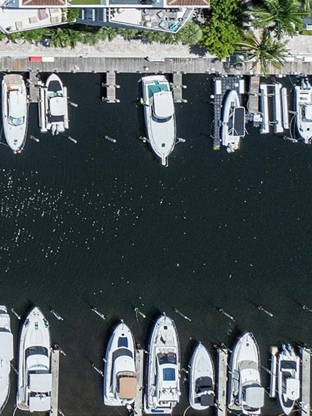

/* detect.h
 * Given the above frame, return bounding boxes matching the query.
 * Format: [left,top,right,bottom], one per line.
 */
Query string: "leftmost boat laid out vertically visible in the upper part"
[0,70,29,157]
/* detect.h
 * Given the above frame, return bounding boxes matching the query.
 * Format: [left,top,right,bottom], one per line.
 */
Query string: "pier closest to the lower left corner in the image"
[49,349,62,416]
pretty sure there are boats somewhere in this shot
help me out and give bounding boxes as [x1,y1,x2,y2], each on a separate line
[215,88,244,152]
[13,306,53,413]
[286,80,312,146]
[0,70,29,157]
[275,346,295,416]
[136,72,177,165]
[99,318,137,405]
[143,311,181,413]
[226,329,263,413]
[184,339,213,407]
[0,304,11,410]
[41,71,64,132]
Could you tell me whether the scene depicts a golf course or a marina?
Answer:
marina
